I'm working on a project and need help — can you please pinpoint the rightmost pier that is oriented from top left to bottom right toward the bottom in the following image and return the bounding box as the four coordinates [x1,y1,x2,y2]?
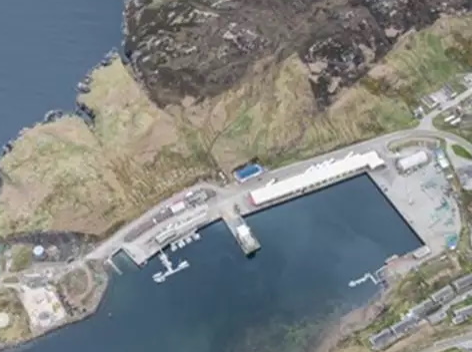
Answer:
[220,213,261,257]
